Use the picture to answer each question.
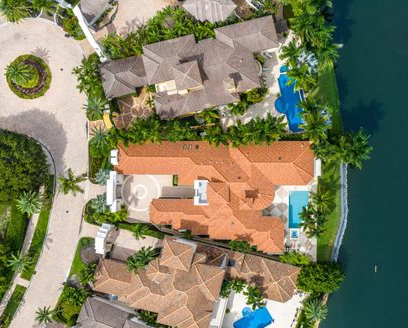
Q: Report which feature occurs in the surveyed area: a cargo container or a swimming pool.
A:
swimming pool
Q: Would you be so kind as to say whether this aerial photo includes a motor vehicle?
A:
No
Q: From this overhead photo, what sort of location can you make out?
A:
residential area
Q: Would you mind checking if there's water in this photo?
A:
Yes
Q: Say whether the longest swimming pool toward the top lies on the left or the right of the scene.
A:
right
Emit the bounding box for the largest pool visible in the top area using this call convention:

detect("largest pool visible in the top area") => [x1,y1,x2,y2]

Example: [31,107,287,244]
[272,72,306,134]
